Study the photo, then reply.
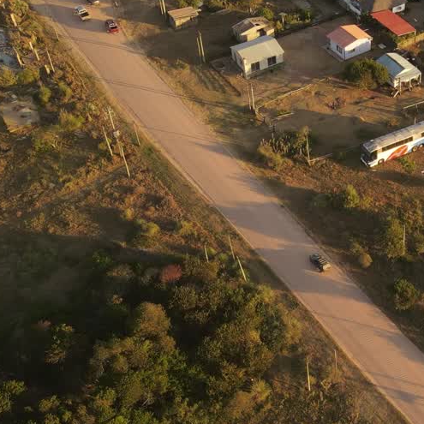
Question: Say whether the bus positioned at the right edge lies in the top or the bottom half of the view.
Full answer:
Seen from above, the bus positioned at the right edge lies in the top half of the view.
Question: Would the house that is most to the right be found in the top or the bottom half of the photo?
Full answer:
The house that is most to the right sits in the top half of the picture.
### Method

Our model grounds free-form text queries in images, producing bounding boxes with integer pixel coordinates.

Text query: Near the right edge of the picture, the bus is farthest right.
[361,123,424,165]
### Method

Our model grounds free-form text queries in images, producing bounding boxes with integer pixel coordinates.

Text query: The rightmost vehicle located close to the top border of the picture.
[104,17,121,32]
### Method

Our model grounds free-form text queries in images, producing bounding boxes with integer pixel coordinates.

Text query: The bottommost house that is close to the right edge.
[379,50,423,106]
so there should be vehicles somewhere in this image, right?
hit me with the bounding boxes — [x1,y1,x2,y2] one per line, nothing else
[104,17,121,32]
[308,251,334,273]
[72,5,91,20]
[361,123,424,165]
[89,0,102,5]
